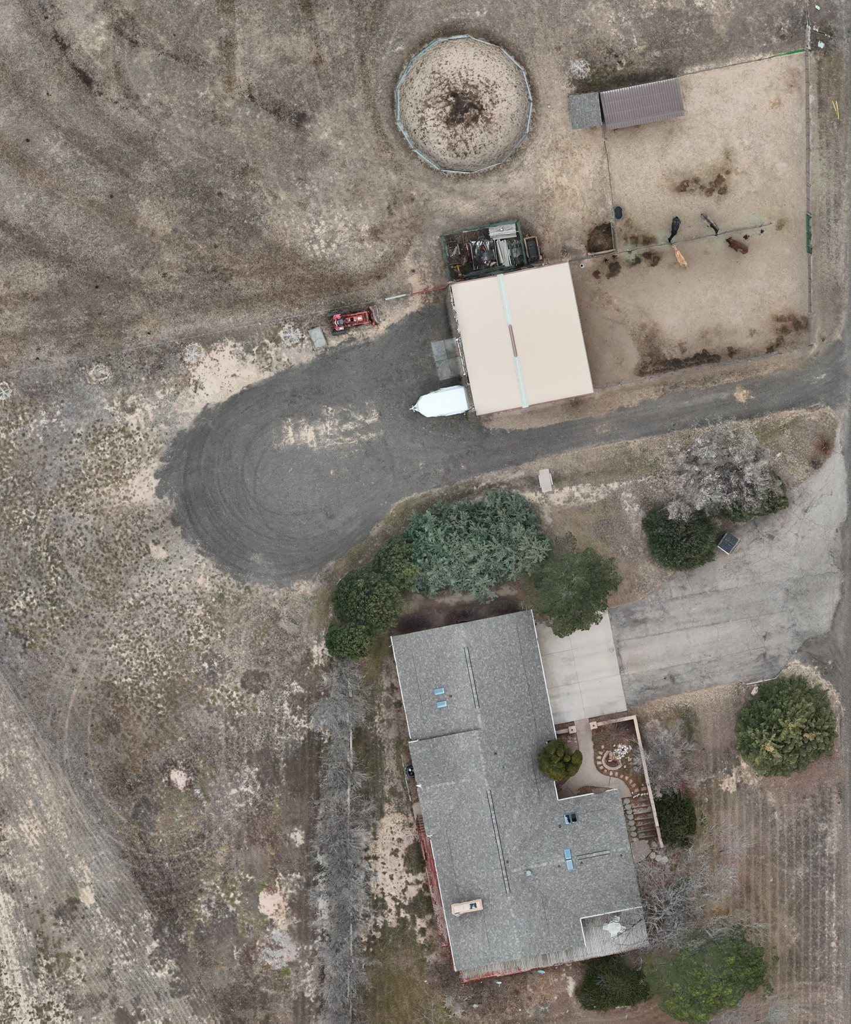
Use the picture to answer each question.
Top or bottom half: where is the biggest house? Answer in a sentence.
The biggest house is in the bottom half of the image.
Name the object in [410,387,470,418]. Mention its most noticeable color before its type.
white trailer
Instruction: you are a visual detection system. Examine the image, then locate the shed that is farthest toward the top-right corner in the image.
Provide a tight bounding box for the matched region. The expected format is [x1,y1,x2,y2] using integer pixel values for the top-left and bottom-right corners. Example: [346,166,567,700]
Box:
[599,77,685,130]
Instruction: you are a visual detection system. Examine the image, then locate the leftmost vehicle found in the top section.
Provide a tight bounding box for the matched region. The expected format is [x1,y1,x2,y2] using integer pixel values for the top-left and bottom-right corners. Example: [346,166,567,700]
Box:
[331,309,379,336]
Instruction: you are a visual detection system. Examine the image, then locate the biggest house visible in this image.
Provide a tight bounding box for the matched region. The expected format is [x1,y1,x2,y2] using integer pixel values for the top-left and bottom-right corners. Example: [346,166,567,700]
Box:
[390,610,642,971]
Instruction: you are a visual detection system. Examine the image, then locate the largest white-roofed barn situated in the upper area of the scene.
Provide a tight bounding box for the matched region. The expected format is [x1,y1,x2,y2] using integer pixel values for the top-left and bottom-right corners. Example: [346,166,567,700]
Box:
[450,261,595,416]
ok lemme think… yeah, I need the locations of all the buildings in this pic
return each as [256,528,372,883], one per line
[450,261,595,416]
[390,610,642,971]
[599,77,685,130]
